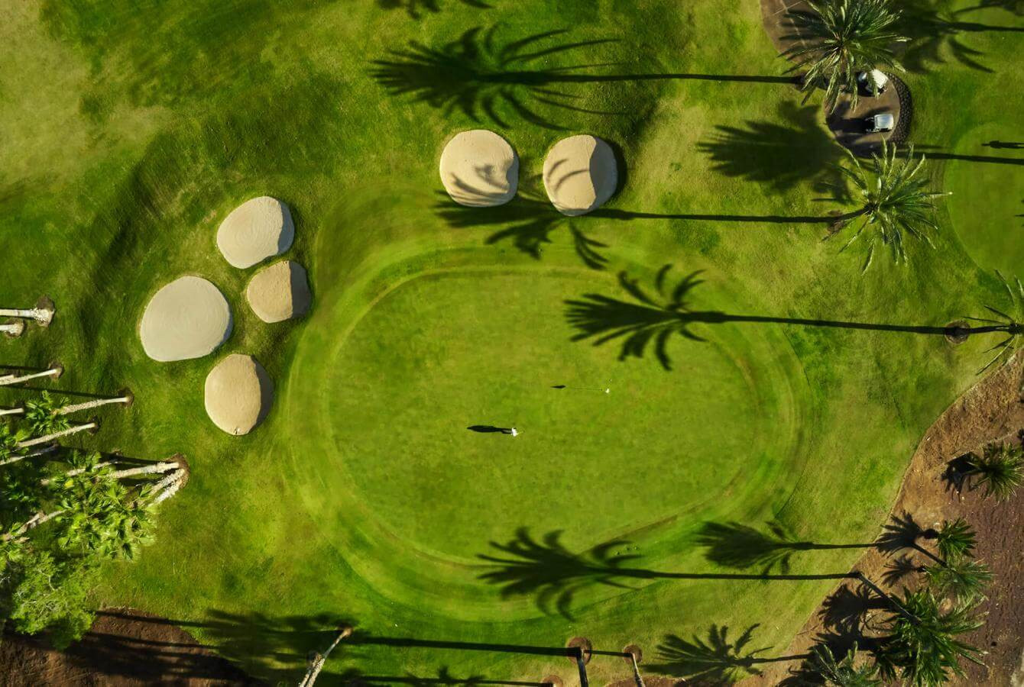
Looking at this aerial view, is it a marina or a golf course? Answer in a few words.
golf course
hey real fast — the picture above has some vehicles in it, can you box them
[866,67,891,93]
[863,112,896,130]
